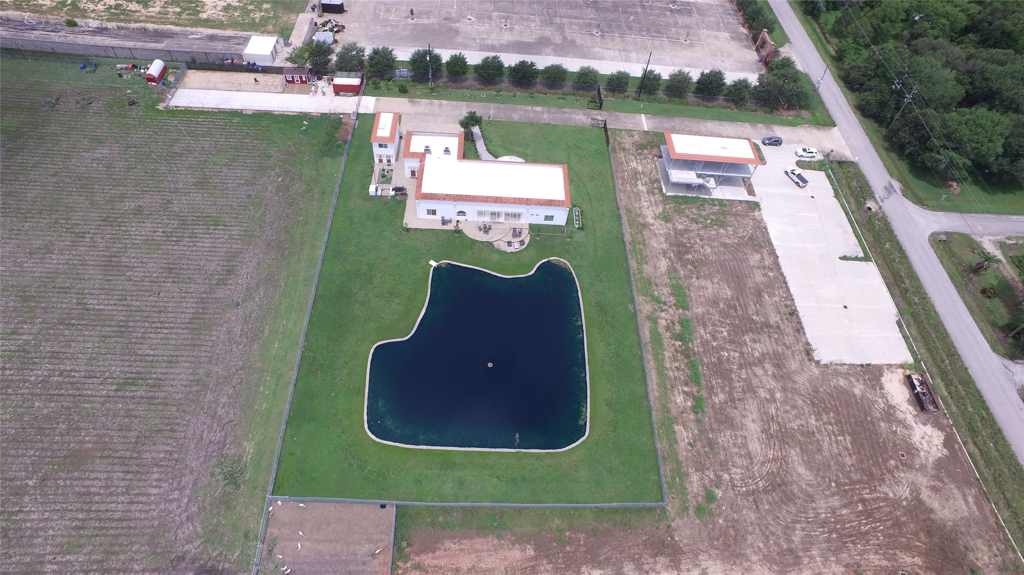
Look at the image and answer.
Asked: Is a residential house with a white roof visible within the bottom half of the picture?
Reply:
No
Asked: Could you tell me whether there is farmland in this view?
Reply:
Yes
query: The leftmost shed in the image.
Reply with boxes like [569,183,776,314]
[141,59,168,82]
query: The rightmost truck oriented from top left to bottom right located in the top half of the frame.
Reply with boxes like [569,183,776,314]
[783,166,813,189]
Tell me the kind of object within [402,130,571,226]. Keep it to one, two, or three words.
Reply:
house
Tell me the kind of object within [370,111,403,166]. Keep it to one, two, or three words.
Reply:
house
